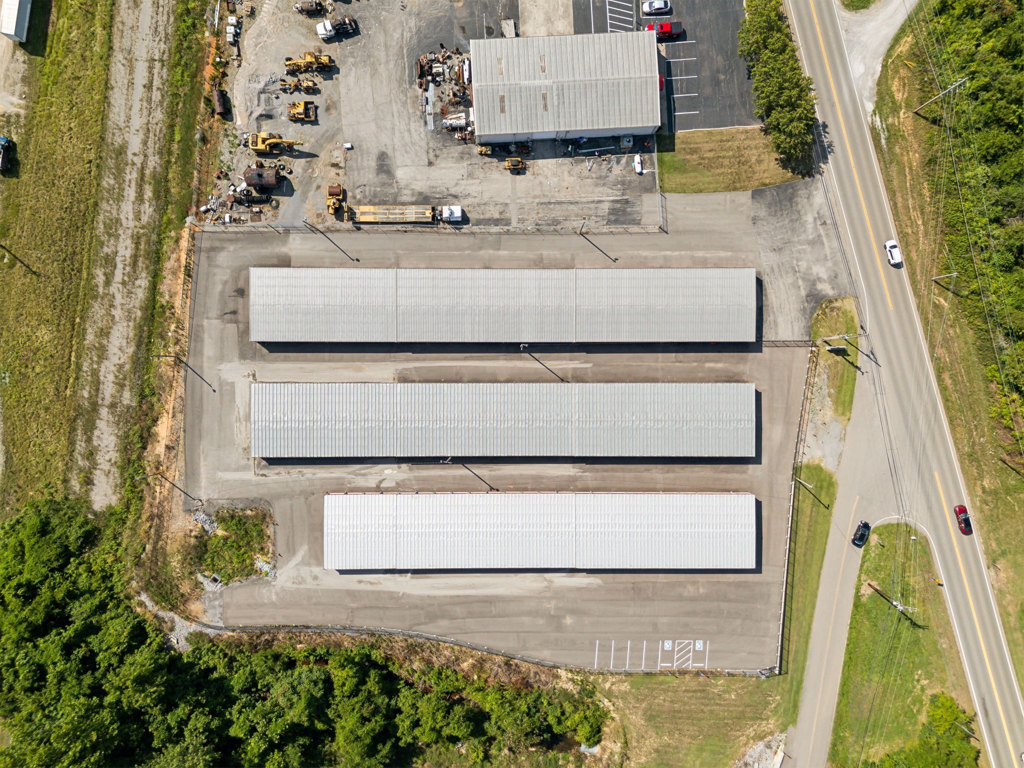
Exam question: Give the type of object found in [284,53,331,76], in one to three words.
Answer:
work vehicle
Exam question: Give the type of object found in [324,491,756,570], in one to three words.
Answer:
building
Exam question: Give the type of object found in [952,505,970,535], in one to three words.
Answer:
car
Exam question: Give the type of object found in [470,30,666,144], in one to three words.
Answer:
building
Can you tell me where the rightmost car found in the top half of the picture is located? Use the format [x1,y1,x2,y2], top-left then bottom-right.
[883,239,903,268]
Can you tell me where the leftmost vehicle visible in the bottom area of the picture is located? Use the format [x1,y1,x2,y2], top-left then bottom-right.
[851,519,869,548]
